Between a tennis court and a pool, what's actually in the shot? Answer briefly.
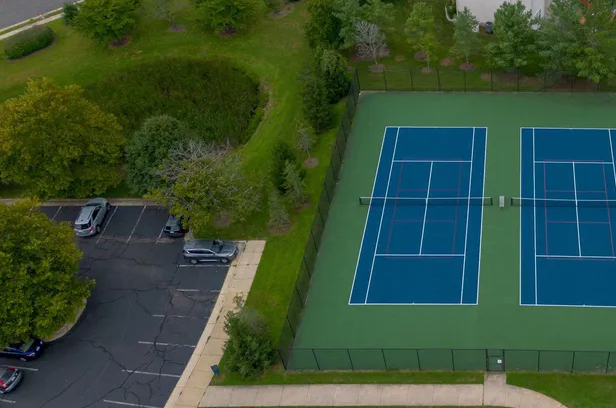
tennis court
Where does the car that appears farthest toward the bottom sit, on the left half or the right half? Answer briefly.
left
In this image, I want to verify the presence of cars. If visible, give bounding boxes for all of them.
[181,234,239,261]
[69,196,111,238]
[159,204,188,235]
[0,330,49,358]
[0,364,28,393]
